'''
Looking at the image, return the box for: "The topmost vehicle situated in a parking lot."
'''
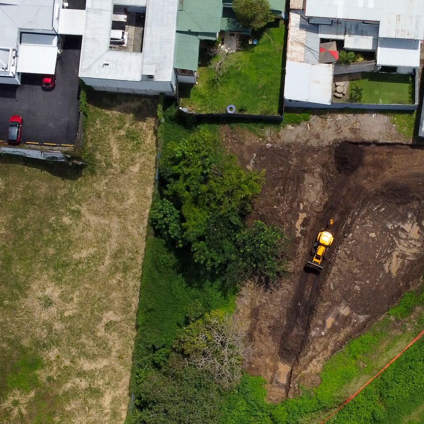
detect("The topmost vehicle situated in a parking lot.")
[41,73,56,93]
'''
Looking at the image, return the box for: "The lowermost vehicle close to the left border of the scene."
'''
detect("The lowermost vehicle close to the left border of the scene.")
[8,115,24,145]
